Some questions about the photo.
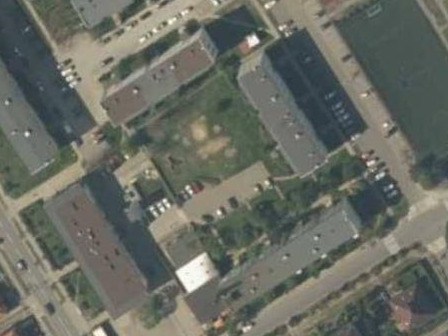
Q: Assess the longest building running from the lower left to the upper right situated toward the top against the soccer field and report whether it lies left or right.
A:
to the left of it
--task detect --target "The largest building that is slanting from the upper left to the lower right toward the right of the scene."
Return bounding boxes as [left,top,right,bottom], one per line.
[237,53,327,175]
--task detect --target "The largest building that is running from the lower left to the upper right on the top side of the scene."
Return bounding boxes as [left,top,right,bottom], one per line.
[103,32,220,124]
